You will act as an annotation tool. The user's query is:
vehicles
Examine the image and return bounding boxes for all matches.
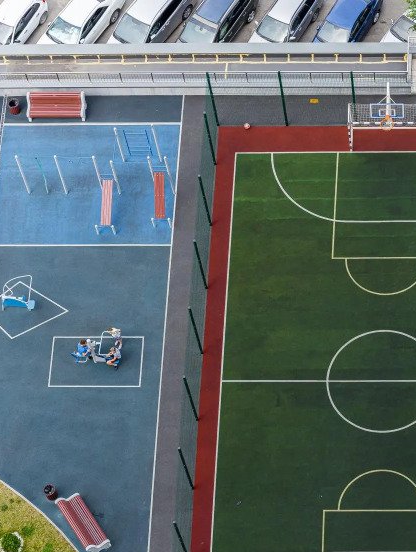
[248,0,331,43]
[309,0,390,43]
[0,0,58,43]
[375,0,416,46]
[109,0,193,43]
[174,0,258,43]
[40,0,126,43]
